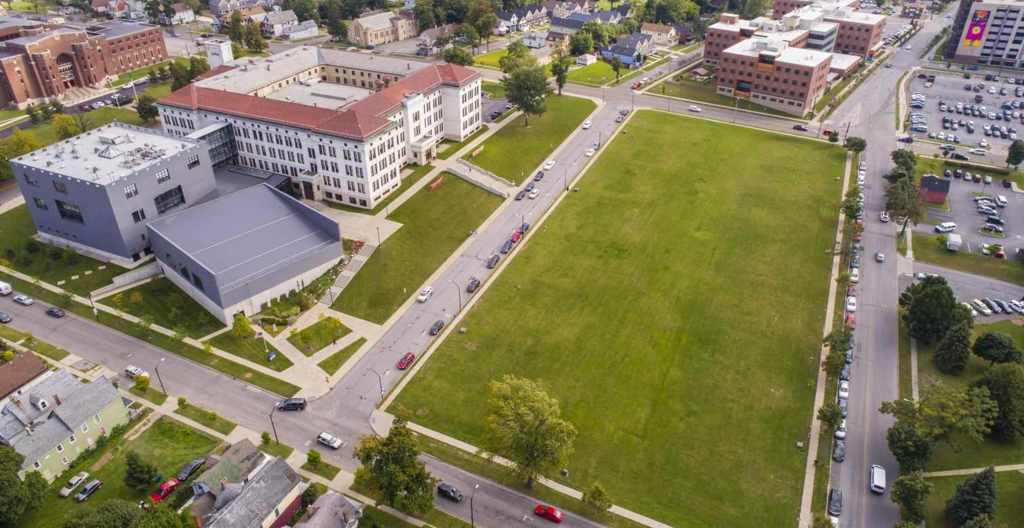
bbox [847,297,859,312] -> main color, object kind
white vehicle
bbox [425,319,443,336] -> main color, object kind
gray car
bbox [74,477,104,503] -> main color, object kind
gray car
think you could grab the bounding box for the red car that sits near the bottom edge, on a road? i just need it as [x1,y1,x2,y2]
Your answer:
[533,504,564,525]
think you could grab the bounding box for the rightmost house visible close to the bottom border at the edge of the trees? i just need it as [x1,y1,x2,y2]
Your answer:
[284,491,376,528]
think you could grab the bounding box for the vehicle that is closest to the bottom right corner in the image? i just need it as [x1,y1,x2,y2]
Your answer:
[869,464,887,495]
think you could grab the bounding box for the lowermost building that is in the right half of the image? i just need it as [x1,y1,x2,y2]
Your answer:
[919,171,953,204]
